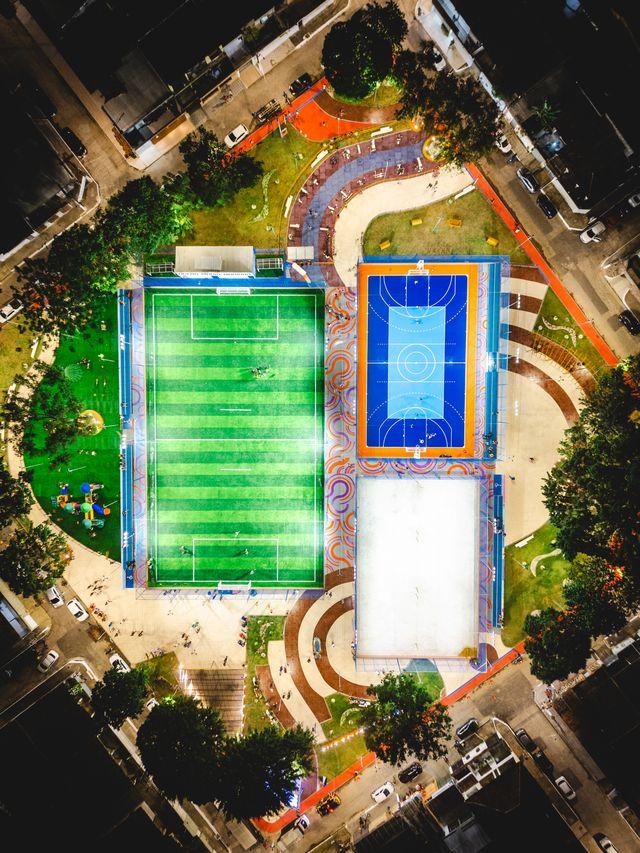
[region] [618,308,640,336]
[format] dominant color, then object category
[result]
black car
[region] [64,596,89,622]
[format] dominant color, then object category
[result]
white car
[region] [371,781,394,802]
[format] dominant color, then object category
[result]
white car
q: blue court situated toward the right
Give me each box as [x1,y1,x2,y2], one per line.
[358,264,478,458]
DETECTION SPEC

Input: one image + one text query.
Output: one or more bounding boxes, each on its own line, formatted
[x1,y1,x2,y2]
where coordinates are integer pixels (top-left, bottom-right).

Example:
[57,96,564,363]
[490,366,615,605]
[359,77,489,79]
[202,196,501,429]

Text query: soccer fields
[145,288,325,589]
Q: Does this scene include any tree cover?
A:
Yes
